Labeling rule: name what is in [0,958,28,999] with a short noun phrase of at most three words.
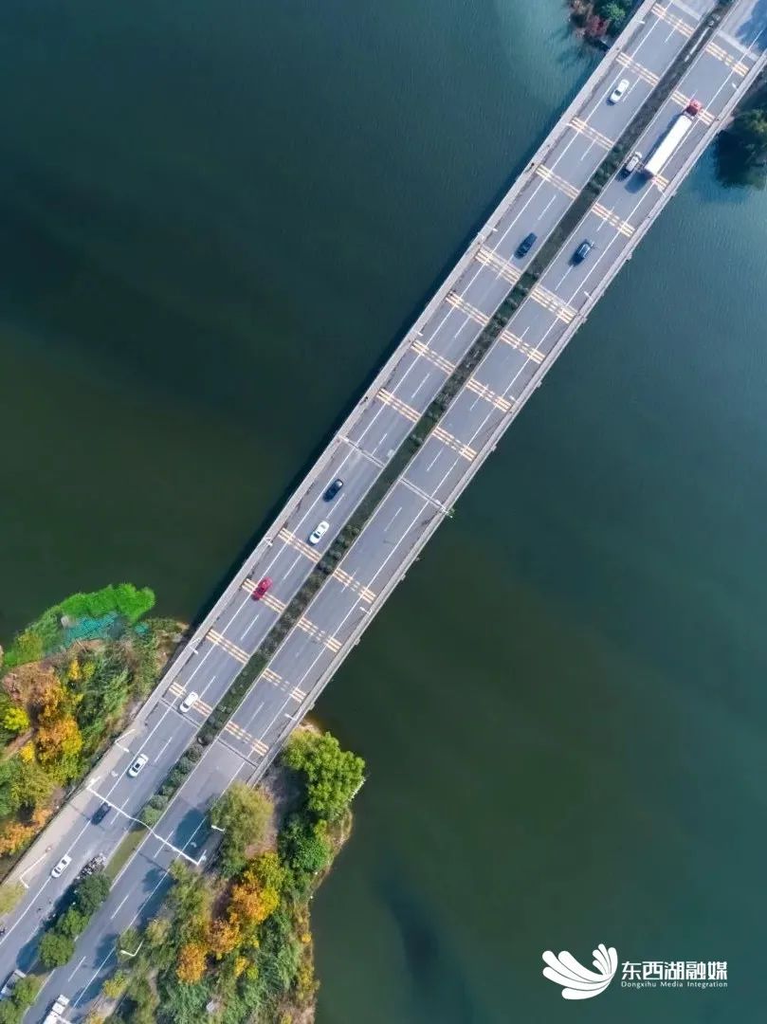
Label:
truck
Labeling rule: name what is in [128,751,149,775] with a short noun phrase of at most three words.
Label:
car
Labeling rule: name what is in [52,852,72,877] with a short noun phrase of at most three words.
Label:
car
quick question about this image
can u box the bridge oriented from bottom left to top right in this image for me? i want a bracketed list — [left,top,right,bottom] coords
[150,0,767,778]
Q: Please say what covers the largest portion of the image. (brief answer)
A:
water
